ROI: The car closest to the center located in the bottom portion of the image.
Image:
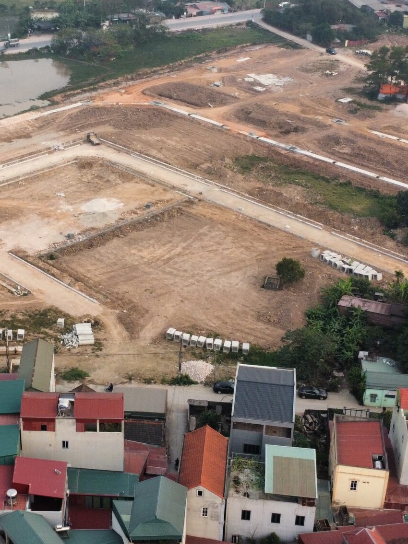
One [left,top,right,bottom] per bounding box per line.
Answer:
[209,381,234,394]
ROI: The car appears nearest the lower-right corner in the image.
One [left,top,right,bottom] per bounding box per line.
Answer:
[299,386,329,400]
